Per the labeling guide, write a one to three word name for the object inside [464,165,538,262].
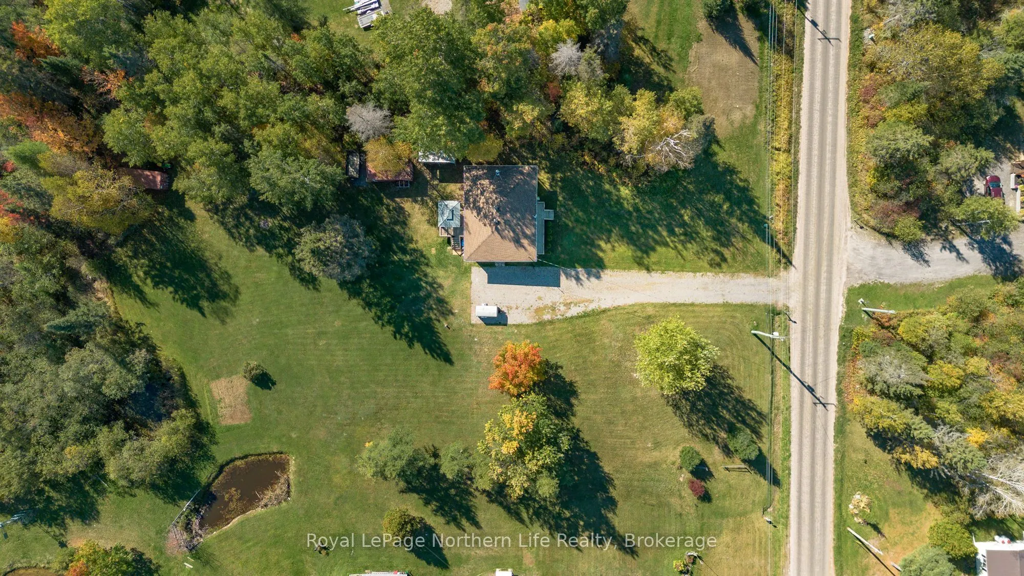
house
